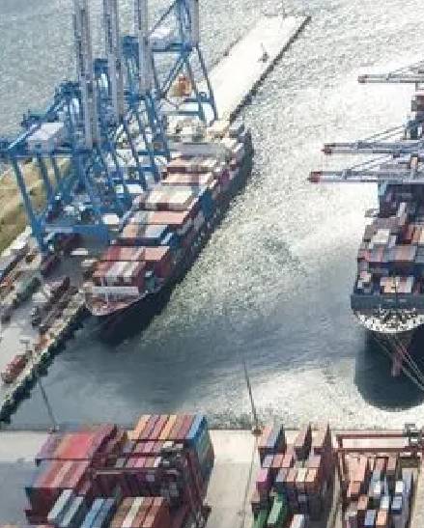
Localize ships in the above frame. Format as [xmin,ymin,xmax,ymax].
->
[346,272,424,375]
[79,124,262,337]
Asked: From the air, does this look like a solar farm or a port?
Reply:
port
